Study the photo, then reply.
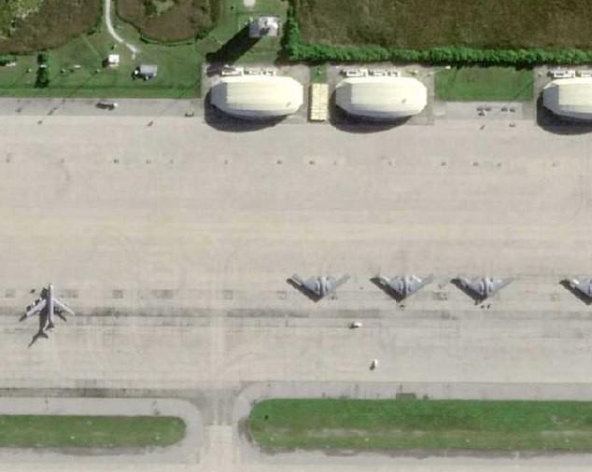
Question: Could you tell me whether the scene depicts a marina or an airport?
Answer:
airport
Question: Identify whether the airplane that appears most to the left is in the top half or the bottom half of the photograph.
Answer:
bottom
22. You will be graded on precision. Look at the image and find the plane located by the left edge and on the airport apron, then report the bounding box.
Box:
[28,285,75,333]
